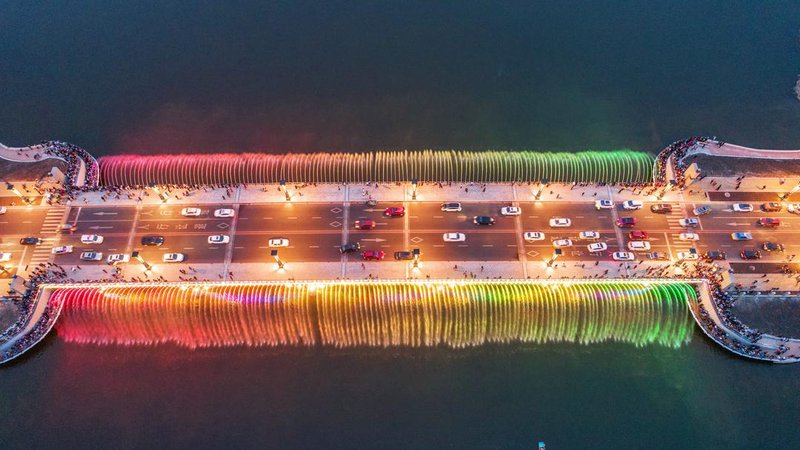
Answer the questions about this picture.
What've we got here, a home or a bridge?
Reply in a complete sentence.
I can see a bridge in this picture.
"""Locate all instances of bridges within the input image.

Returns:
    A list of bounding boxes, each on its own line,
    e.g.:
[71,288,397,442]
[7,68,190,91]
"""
[45,181,705,296]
